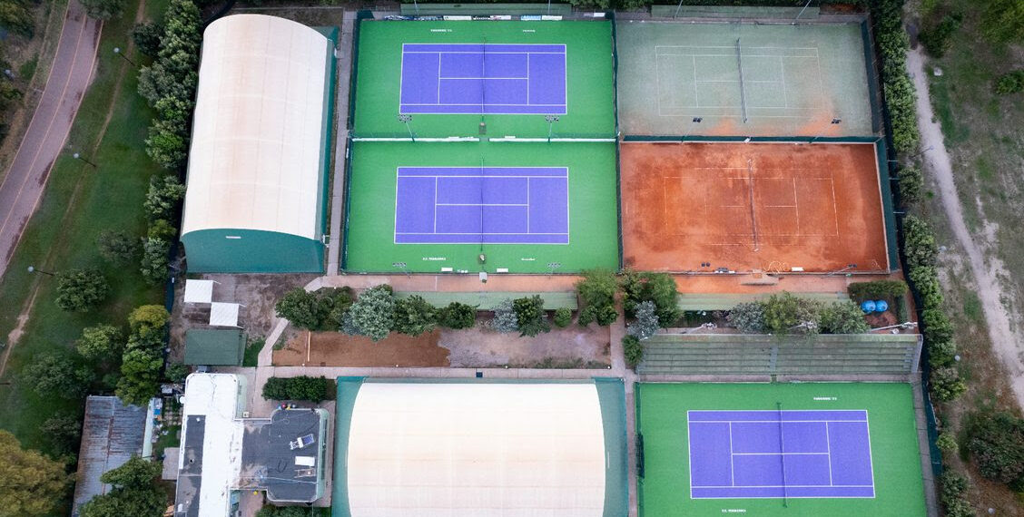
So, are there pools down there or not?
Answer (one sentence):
No, no pool is visible in the view.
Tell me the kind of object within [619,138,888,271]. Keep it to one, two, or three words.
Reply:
tennis court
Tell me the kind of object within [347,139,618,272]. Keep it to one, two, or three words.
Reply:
tennis court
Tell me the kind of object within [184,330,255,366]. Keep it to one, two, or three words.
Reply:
shed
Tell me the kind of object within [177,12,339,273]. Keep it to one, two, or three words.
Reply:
building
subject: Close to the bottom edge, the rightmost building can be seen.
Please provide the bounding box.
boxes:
[327,376,628,517]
